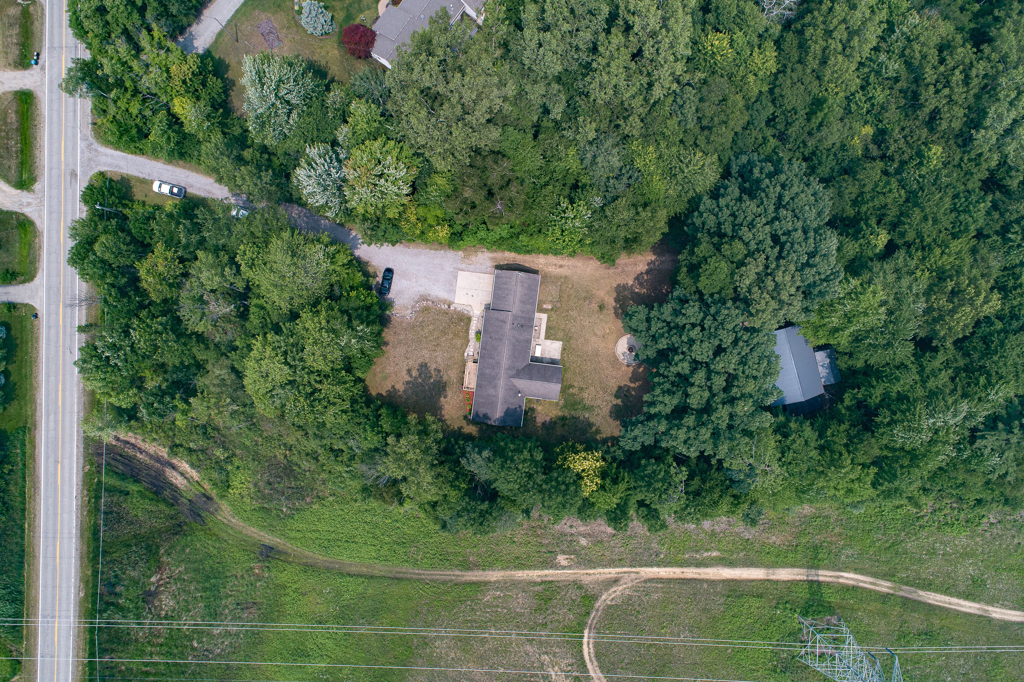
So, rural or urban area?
rural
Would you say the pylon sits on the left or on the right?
right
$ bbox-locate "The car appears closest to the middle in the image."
[380,267,395,297]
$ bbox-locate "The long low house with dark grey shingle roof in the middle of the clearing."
[471,269,563,428]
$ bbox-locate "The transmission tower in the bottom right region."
[797,615,903,682]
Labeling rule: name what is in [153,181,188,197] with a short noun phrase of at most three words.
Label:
vehicle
